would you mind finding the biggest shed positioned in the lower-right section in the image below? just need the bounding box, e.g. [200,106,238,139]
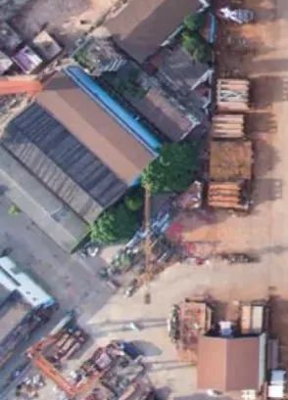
[197,329,268,393]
